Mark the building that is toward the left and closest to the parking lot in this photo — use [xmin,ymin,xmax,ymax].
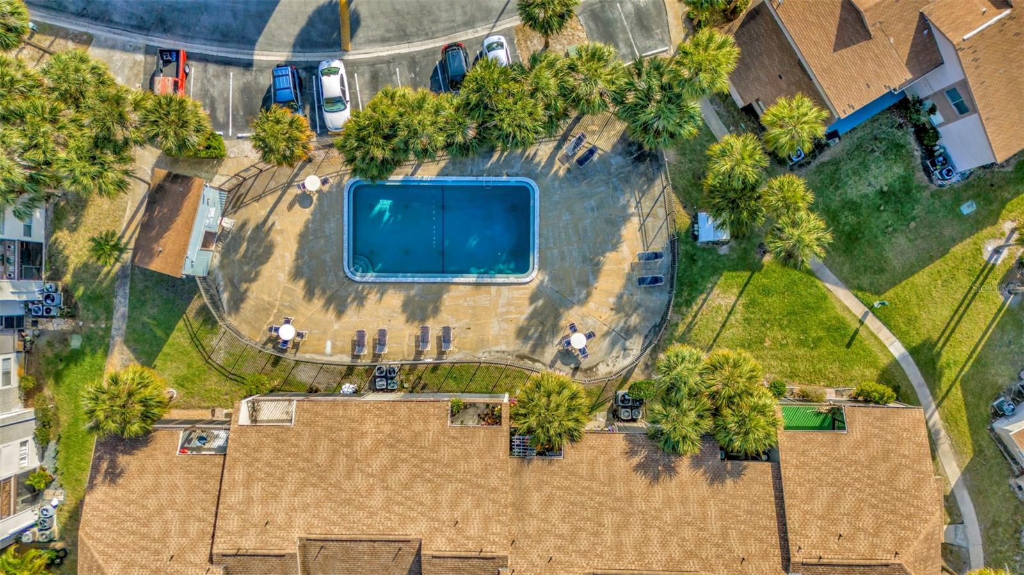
[132,168,228,278]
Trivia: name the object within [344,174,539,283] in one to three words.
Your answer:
swimming pool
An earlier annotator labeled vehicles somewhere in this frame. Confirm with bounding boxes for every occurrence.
[439,33,470,84]
[484,25,516,88]
[267,53,301,118]
[314,55,347,130]
[150,42,186,124]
